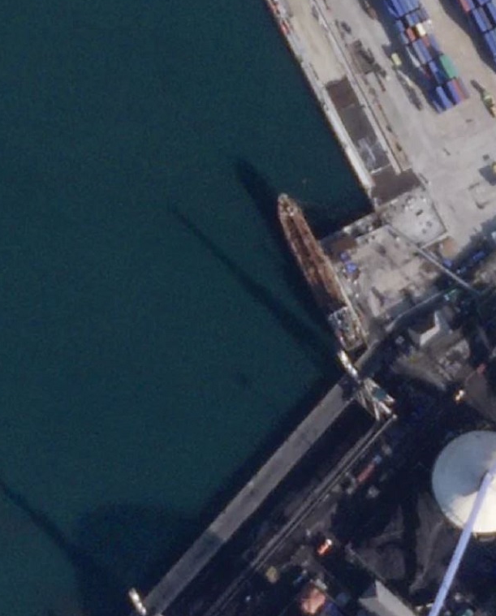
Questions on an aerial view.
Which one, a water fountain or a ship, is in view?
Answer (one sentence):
Of the two, only a ship appears.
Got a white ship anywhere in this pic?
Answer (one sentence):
No, the frame has no white ship in it.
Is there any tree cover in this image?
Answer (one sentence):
No, the picture contains no tree cover.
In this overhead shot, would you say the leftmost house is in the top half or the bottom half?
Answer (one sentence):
The leftmost house sits in the bottom half of the picture.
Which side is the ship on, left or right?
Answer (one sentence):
The ship sits on the right side.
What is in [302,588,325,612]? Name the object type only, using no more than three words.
house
